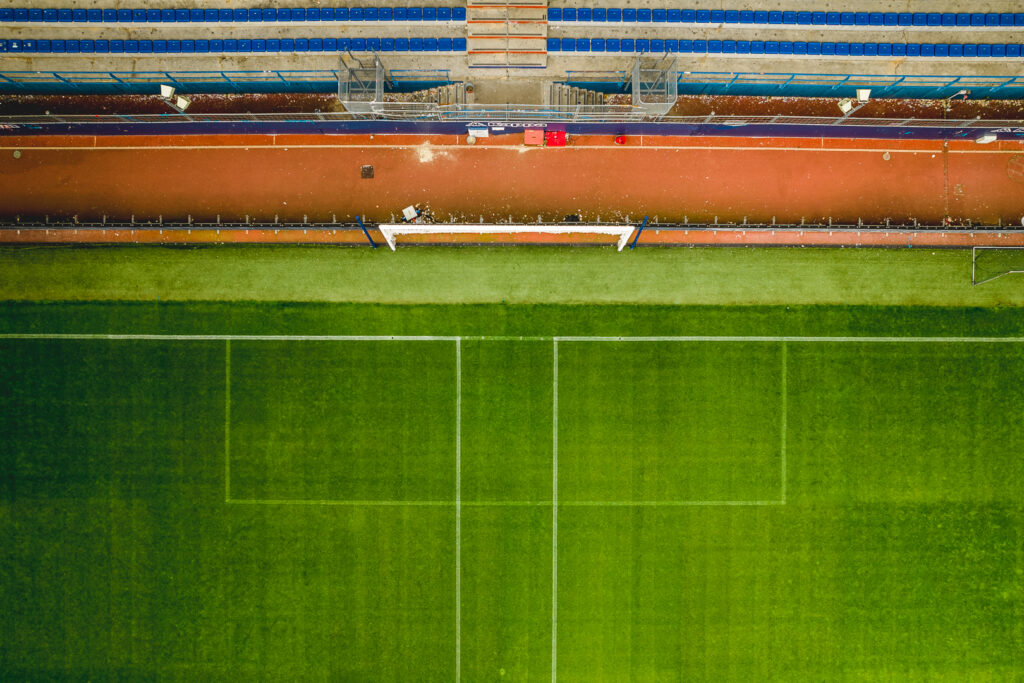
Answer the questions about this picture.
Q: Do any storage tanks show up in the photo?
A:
No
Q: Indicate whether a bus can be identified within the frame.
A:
No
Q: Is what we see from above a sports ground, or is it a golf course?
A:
sports ground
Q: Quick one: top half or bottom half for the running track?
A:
top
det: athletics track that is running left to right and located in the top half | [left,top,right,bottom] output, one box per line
[0,134,1024,251]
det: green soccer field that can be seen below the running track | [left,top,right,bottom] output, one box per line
[0,301,1024,683]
